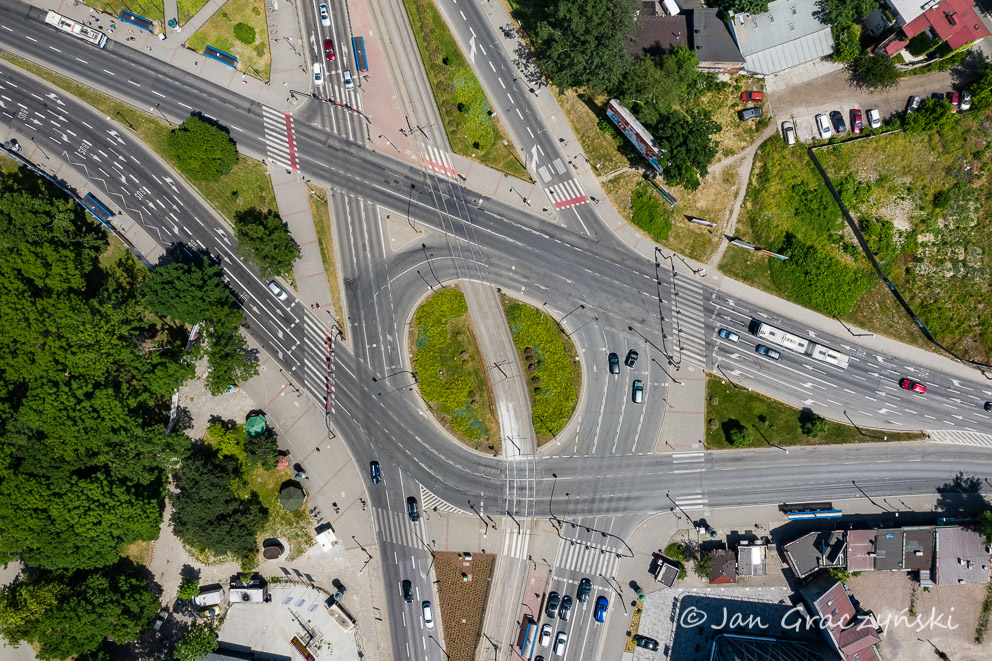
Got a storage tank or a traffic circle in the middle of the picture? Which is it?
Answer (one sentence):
The feature located in the middle of the picture is a traffic circle.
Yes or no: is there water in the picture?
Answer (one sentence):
No, water can't be seen anywhere here.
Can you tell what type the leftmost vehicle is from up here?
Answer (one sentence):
The leftmost vehicle appears to be a bus.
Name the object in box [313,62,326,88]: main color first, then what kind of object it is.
white vehicle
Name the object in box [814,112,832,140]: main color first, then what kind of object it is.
white car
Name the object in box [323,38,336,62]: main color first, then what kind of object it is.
red vehicle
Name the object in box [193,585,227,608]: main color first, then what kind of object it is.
white vehicle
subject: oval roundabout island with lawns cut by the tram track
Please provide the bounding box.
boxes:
[406,279,586,458]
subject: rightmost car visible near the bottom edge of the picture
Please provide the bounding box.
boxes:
[634,632,662,652]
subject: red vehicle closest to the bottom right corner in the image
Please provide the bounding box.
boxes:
[896,377,926,394]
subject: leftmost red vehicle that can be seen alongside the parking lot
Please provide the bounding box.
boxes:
[741,90,763,103]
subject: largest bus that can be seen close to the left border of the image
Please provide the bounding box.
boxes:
[40,3,113,54]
